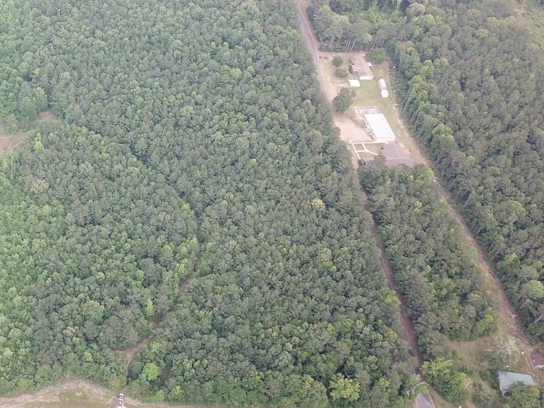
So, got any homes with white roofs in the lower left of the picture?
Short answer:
No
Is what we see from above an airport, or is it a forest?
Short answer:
forest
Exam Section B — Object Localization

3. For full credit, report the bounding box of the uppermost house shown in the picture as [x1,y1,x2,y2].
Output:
[348,55,374,81]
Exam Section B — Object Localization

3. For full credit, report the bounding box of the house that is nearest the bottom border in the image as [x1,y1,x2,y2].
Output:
[494,373,536,392]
